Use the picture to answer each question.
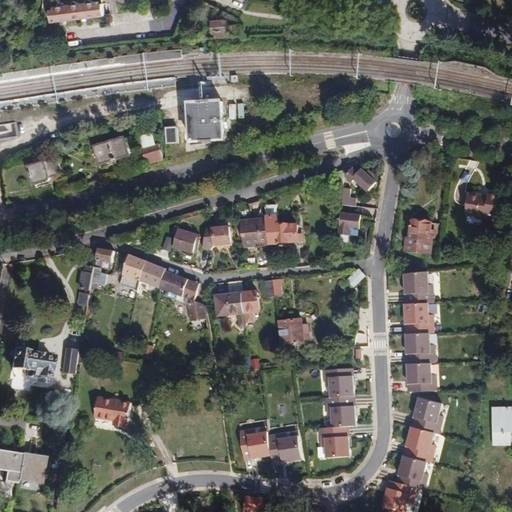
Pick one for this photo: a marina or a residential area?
residential area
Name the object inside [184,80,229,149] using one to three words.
building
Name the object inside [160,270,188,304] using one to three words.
house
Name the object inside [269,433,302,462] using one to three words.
house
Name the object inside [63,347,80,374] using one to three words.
barn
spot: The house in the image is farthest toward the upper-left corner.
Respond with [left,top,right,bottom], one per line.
[48,2,107,25]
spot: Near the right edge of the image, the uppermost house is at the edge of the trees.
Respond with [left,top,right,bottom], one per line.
[464,191,494,214]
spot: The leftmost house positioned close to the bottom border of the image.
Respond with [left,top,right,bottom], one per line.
[0,450,50,488]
